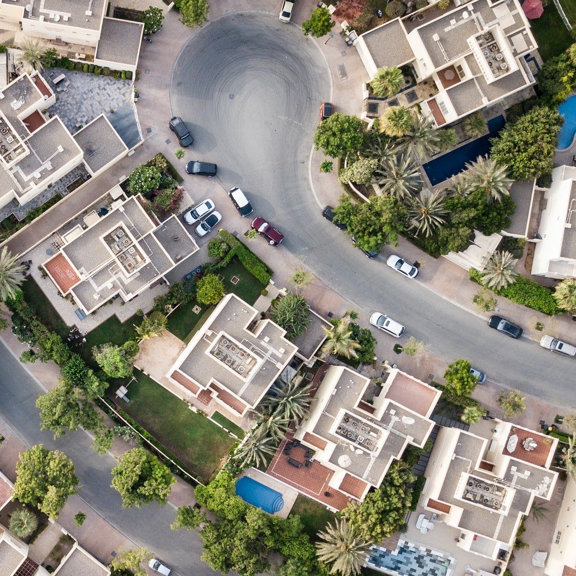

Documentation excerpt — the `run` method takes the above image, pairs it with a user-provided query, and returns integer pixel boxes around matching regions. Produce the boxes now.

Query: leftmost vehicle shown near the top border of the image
[276,0,298,25]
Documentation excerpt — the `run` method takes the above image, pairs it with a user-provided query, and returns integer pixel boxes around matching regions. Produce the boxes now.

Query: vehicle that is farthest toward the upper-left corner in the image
[169,117,193,148]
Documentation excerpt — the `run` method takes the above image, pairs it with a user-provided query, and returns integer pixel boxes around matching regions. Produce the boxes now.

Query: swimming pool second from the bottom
[231,471,289,514]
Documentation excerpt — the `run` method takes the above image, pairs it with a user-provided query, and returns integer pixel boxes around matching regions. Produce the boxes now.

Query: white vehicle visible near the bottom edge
[146,556,176,576]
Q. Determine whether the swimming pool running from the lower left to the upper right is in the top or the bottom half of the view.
top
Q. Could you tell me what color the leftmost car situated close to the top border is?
white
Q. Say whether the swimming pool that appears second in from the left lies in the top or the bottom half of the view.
bottom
